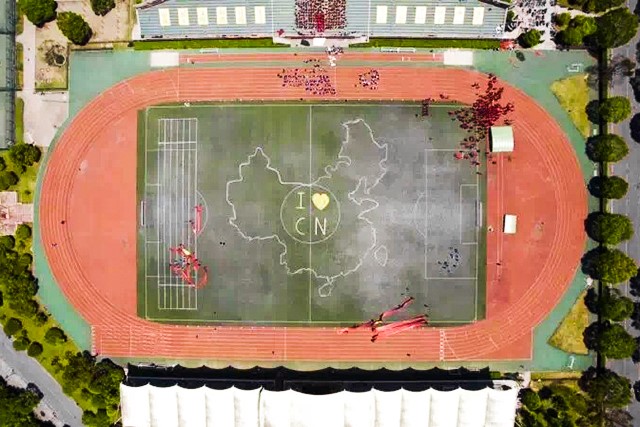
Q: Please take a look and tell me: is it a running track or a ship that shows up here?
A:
running track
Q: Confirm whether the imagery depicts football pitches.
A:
Yes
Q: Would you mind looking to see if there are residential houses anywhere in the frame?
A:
No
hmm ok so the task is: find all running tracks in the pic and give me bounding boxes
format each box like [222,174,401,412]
[39,68,586,360]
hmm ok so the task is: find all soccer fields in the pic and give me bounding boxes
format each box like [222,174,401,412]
[138,98,487,328]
